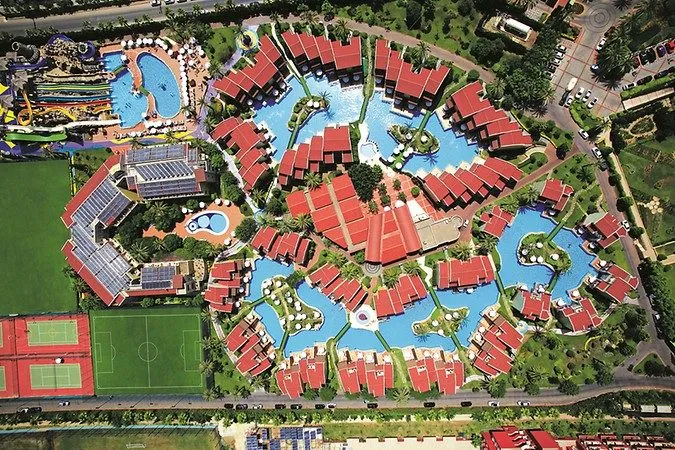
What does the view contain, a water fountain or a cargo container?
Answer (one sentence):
I can see a water fountain in this picture.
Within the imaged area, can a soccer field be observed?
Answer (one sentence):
Yes, the picture does show a soccer field.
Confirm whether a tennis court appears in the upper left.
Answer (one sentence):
No, looking in the upper left, there is no tennis court.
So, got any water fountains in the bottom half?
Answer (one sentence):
Yes, a water fountain appears in the bottom half.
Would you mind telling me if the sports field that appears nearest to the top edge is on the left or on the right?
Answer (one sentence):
You can find the sports field that appears nearest to the top edge on the left side of the picture.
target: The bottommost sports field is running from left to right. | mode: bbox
[0,424,222,450]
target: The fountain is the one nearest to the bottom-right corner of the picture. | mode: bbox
[355,308,372,325]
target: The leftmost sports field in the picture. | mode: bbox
[0,160,78,315]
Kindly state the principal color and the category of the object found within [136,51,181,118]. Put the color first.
blue swimming pool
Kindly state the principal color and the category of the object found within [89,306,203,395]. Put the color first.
green soccer field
